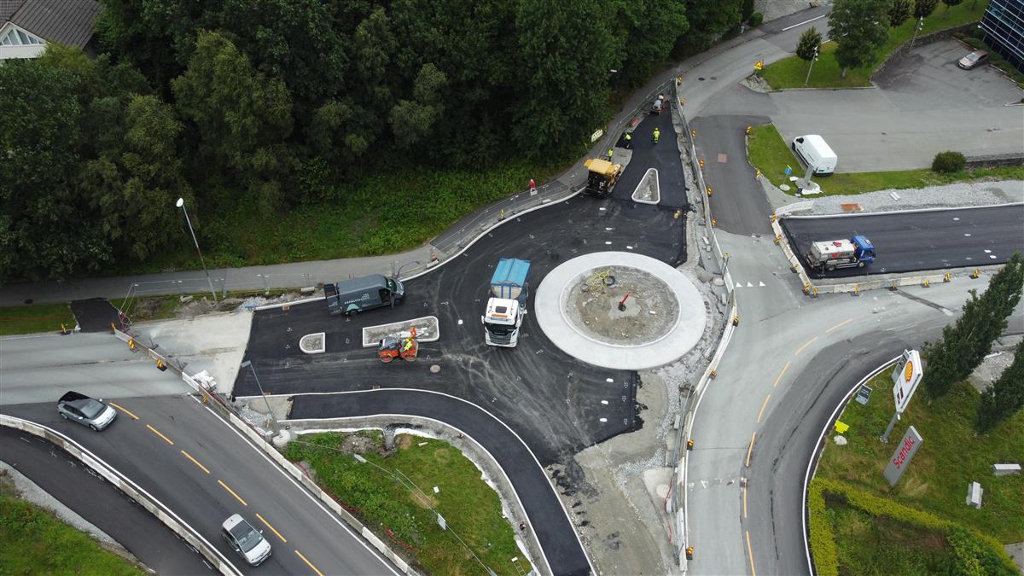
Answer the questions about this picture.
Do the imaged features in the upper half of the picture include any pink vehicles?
No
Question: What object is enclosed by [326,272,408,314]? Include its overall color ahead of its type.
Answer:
gray van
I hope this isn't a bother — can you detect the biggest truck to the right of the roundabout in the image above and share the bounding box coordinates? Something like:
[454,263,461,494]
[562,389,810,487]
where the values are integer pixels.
[804,227,881,270]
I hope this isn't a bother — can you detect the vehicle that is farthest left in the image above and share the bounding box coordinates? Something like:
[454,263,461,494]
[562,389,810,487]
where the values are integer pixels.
[53,391,115,432]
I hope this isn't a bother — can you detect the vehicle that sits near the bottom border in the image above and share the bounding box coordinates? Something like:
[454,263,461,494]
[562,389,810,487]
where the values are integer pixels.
[218,504,273,566]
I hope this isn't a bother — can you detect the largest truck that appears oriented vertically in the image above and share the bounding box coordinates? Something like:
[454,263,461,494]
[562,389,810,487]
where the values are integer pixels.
[481,257,530,349]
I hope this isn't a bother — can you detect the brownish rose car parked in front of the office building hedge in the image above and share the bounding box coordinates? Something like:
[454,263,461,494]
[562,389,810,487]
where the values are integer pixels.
[954,49,991,68]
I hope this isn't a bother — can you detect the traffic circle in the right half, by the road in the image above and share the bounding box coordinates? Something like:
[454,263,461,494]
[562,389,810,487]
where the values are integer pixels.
[535,251,707,371]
